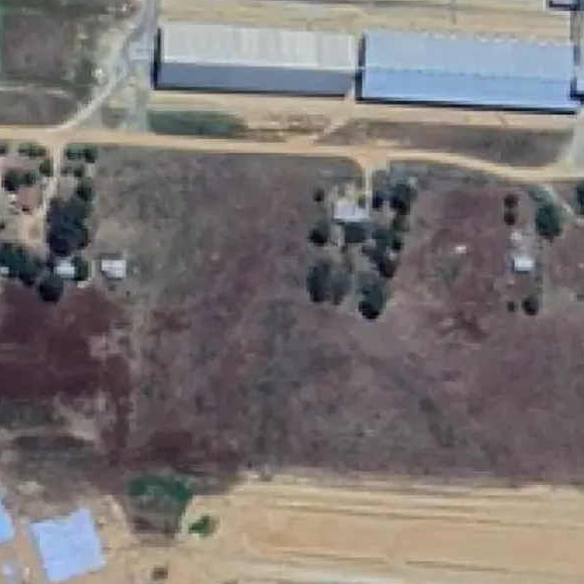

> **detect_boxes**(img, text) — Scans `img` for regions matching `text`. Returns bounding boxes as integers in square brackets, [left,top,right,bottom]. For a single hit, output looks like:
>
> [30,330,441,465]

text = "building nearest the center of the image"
[334,201,369,221]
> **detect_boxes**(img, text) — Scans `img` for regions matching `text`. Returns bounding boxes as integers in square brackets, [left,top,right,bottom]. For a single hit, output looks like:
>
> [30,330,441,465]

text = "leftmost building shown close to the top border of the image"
[155,23,357,94]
